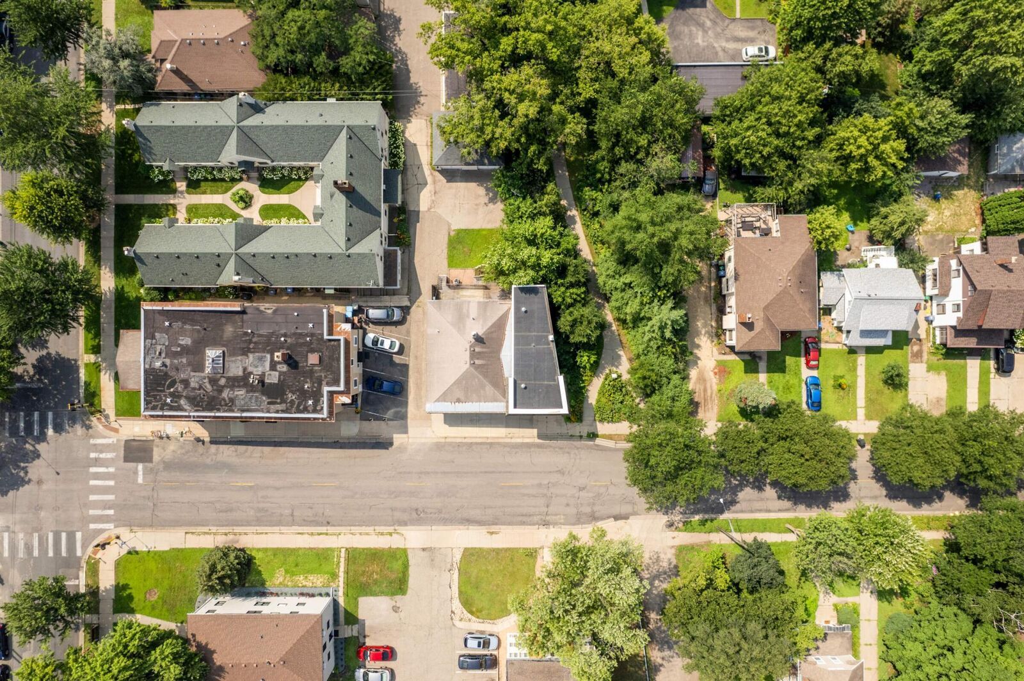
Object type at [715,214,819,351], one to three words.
house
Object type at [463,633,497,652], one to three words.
car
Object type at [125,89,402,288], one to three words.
building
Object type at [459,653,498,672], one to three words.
car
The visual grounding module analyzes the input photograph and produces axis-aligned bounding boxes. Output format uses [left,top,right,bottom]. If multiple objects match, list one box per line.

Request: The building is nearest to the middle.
[426,286,567,413]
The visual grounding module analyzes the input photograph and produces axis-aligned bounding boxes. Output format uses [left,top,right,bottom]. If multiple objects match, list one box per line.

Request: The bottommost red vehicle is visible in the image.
[357,644,393,663]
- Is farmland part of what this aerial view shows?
No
